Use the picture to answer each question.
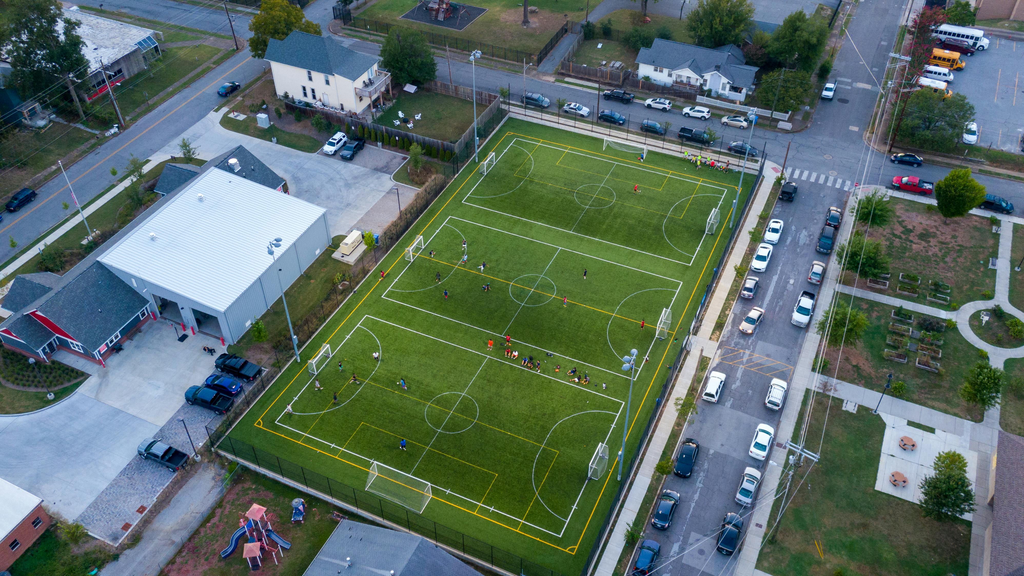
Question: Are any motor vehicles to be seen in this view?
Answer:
Yes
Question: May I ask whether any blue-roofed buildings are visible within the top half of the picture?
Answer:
Yes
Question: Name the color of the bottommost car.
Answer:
blue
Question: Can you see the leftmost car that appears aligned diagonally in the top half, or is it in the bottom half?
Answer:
top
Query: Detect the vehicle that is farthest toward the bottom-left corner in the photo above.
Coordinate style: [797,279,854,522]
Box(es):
[138,440,187,468]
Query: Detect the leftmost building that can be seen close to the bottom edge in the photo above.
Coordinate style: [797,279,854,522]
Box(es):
[0,480,49,571]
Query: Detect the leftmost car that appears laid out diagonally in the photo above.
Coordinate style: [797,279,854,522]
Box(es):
[6,188,36,210]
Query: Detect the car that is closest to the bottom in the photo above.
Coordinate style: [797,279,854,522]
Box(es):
[633,537,660,576]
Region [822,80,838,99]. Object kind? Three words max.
vehicle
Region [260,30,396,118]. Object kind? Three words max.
house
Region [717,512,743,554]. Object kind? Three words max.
car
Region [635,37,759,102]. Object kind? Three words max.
house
